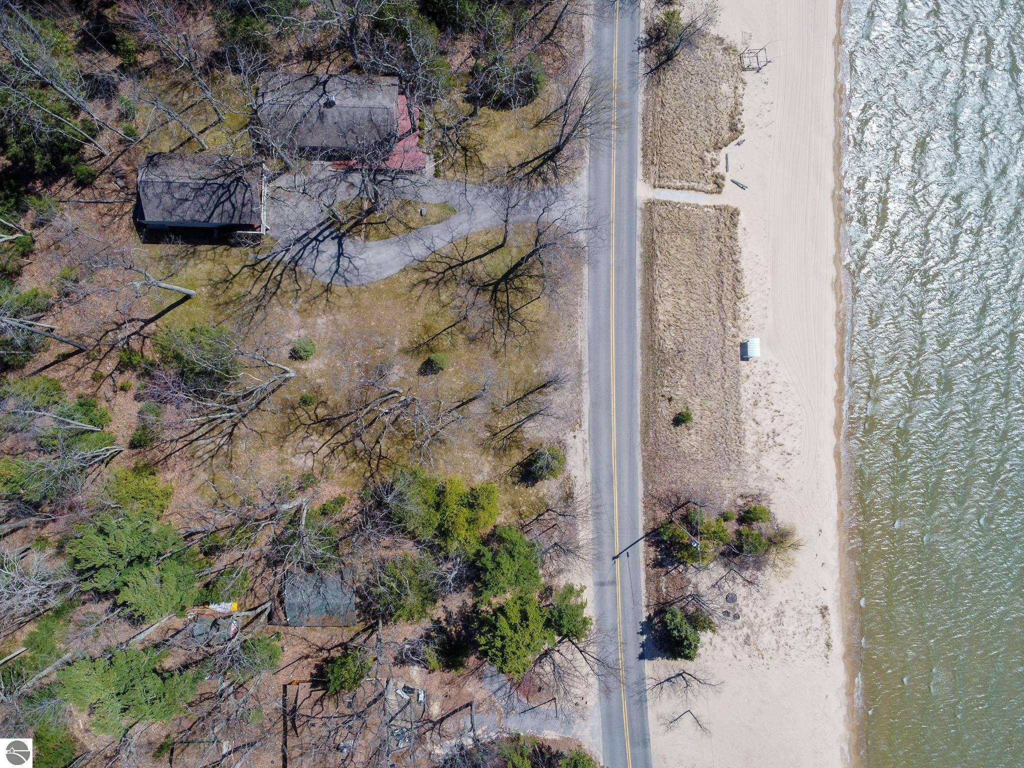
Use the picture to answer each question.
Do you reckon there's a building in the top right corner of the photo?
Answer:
No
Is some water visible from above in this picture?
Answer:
Yes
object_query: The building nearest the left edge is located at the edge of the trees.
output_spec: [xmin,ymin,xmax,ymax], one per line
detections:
[130,155,271,225]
